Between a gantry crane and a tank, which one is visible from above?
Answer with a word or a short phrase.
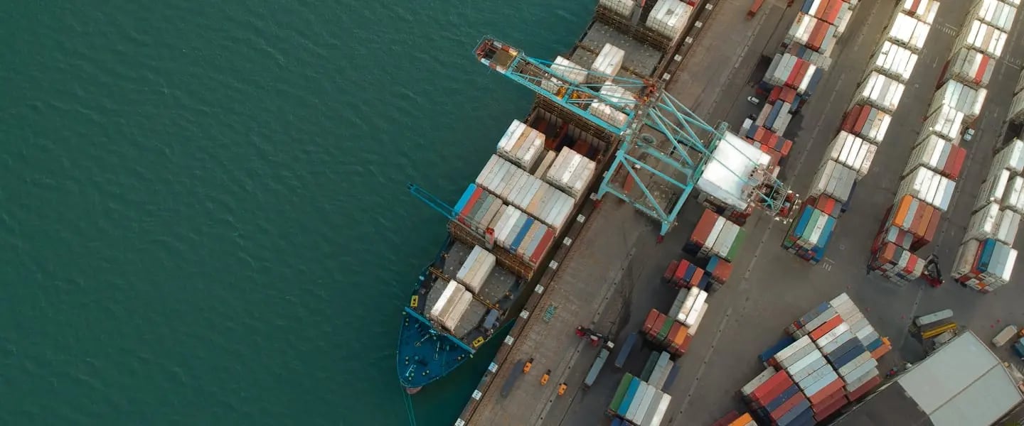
gantry crane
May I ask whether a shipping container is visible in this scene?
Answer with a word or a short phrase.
Yes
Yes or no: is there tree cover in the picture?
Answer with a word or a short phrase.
No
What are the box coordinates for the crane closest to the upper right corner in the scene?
[469,31,807,246]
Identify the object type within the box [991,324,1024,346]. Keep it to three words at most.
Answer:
truck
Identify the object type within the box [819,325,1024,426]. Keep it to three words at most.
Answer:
shed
